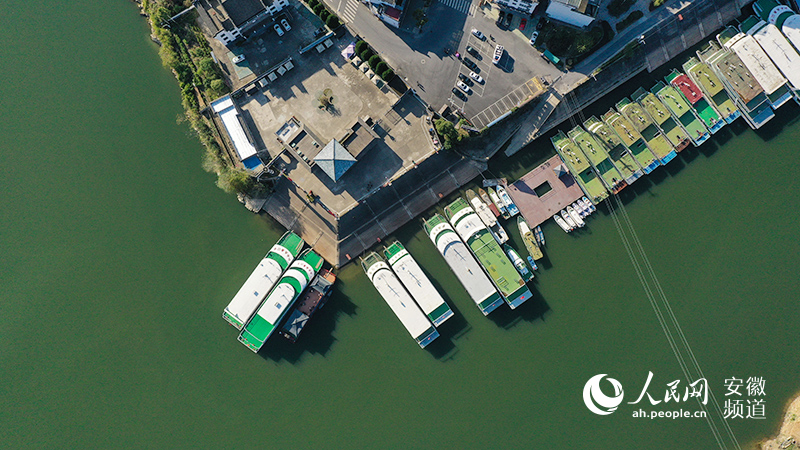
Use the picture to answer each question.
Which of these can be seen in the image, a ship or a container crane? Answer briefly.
ship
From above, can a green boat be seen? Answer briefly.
Yes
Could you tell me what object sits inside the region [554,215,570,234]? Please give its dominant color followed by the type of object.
white boat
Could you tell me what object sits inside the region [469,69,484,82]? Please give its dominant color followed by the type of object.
white vehicle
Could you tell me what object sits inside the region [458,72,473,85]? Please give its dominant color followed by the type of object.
black vehicle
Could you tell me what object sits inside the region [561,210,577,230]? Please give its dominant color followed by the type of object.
white boat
